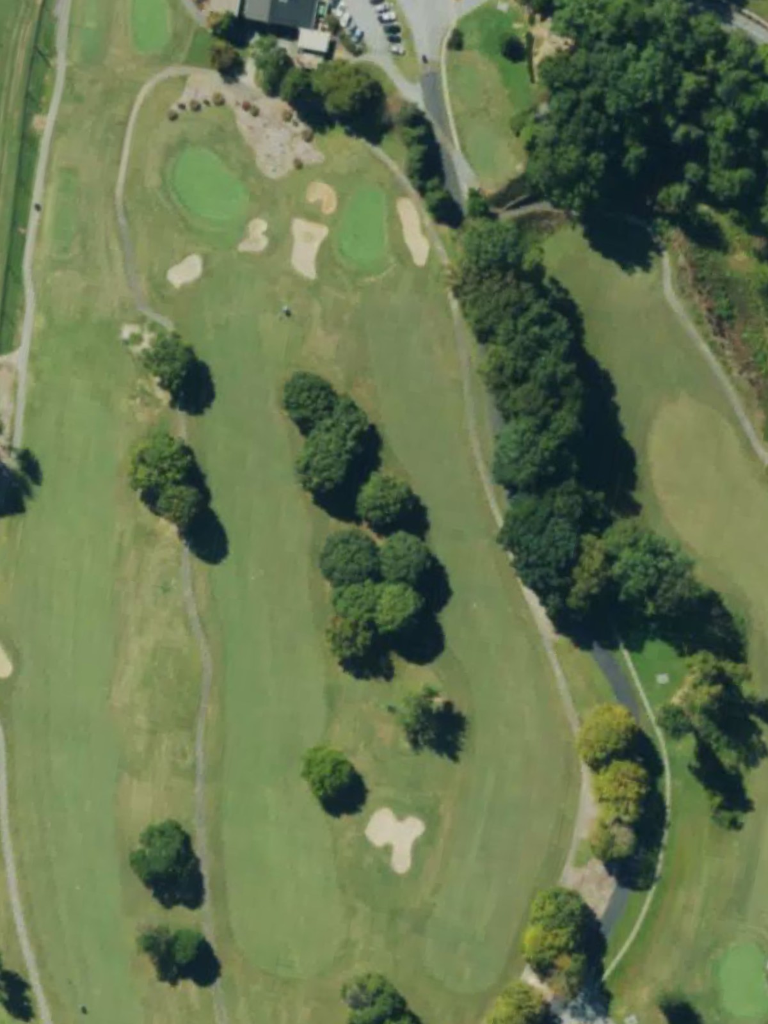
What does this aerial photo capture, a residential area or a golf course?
golf course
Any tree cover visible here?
Yes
